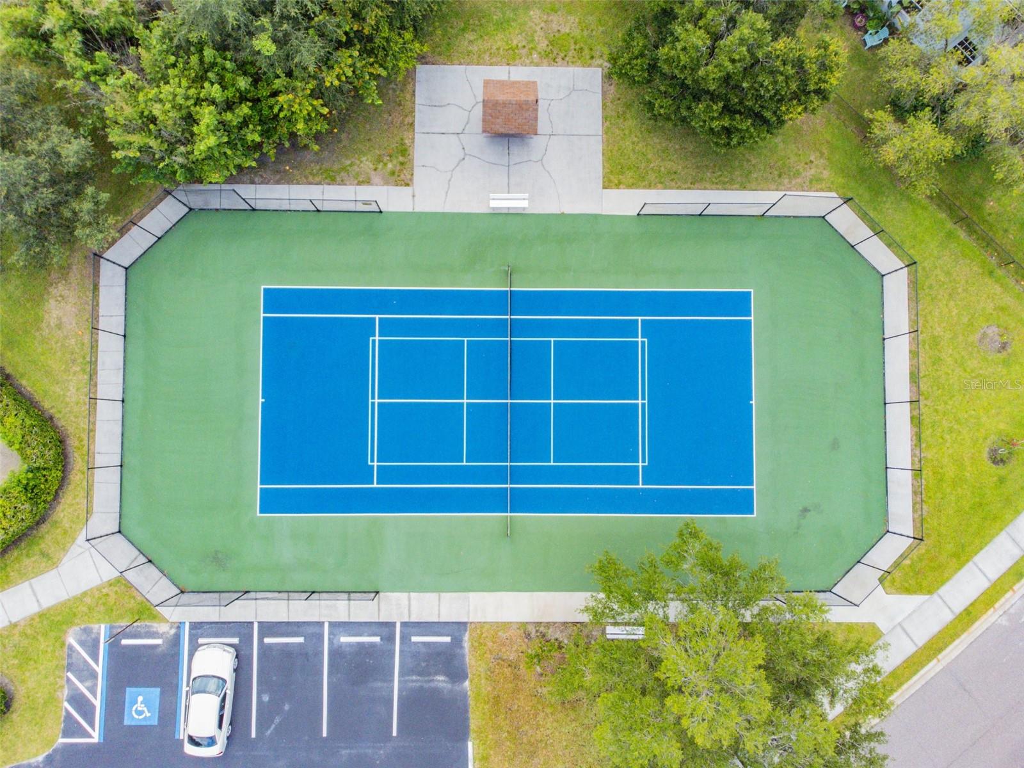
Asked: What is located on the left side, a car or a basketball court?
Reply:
car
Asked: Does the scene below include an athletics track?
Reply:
No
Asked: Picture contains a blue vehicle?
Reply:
No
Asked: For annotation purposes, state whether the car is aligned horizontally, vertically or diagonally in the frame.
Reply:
vertically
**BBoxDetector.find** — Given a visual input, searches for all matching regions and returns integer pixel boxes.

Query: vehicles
[187,644,240,759]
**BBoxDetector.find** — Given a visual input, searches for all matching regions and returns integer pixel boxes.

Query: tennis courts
[121,210,887,591]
